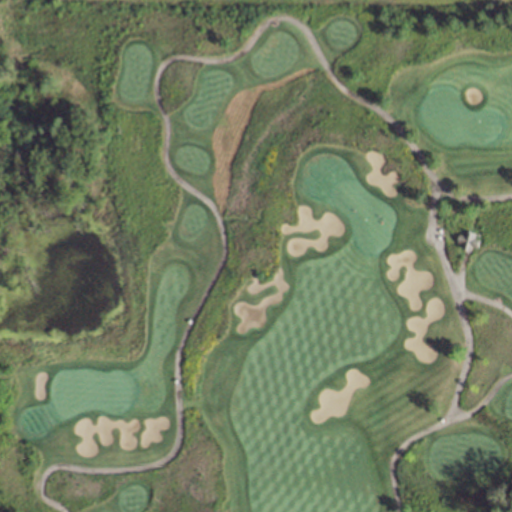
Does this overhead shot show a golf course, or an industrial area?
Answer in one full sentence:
The picture captures a golf course.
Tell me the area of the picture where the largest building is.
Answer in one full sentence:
The largest building is in the right part of the image.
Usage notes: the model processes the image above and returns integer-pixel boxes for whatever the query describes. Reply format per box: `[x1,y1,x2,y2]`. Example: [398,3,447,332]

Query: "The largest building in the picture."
[463,230,482,256]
